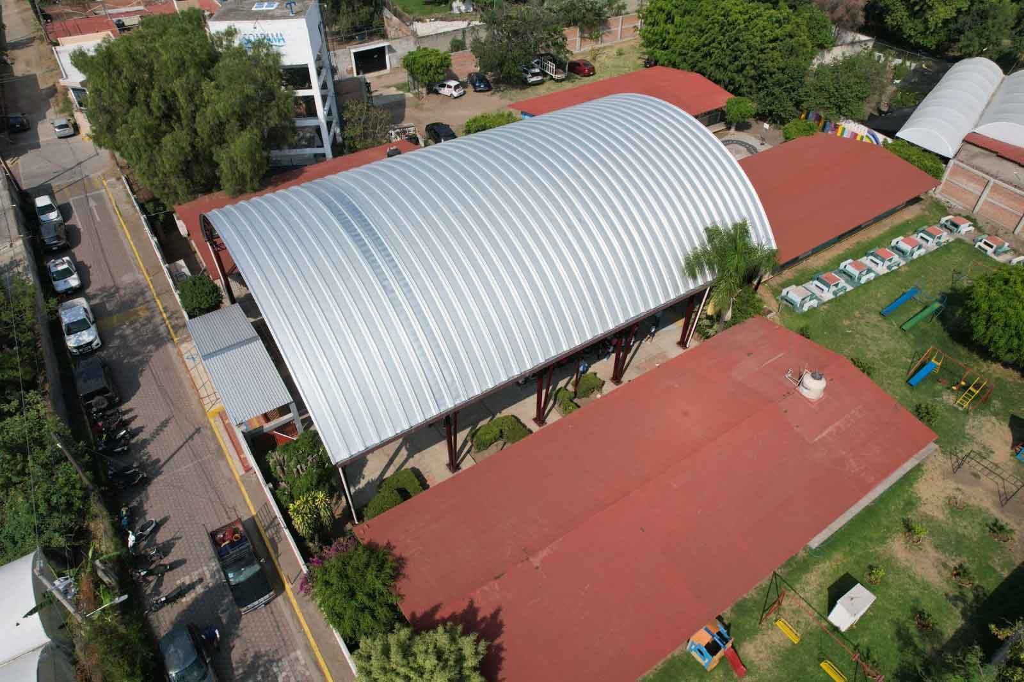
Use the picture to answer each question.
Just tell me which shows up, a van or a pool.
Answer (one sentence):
This aerial view contains a van.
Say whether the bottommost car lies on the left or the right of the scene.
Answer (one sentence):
The bottommost car is on the left side of the image.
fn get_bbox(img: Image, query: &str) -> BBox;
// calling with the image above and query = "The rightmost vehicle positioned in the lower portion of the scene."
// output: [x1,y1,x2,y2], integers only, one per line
[198,493,278,622]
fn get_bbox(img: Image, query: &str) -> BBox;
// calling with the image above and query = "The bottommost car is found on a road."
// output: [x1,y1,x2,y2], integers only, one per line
[160,615,228,682]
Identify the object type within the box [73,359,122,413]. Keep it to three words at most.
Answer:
car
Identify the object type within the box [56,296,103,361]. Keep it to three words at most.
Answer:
truck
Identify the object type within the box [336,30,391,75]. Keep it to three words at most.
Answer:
building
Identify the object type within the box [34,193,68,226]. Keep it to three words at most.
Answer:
van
